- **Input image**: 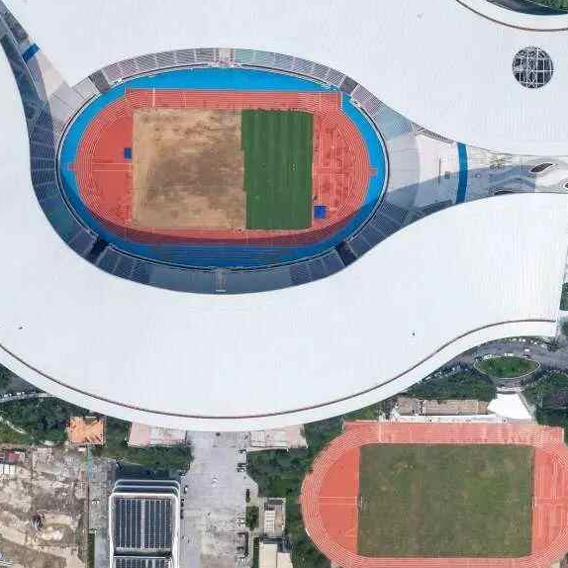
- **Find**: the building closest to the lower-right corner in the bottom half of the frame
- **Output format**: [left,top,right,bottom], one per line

[487,388,532,419]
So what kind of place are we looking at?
sports ground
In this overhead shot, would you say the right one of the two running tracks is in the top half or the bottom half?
bottom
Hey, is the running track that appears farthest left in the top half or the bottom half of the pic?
top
